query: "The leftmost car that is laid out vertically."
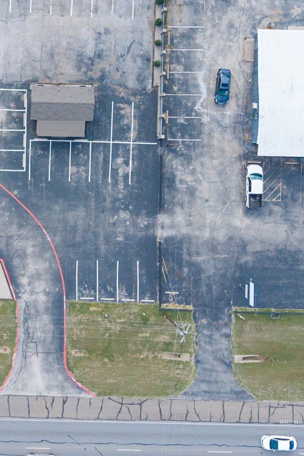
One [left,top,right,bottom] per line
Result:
[215,68,232,105]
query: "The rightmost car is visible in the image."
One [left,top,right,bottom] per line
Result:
[261,434,298,453]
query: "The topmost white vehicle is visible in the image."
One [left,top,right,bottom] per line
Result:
[246,164,265,209]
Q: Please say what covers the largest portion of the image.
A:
paved ground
